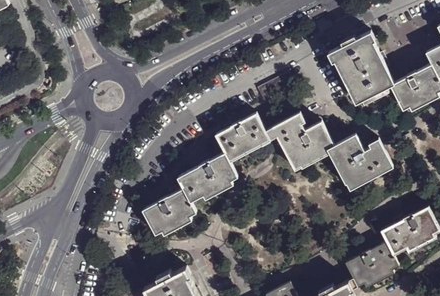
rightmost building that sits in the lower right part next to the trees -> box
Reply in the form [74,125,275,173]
[380,206,440,257]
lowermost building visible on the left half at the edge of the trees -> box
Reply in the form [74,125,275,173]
[142,270,198,296]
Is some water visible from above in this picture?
No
